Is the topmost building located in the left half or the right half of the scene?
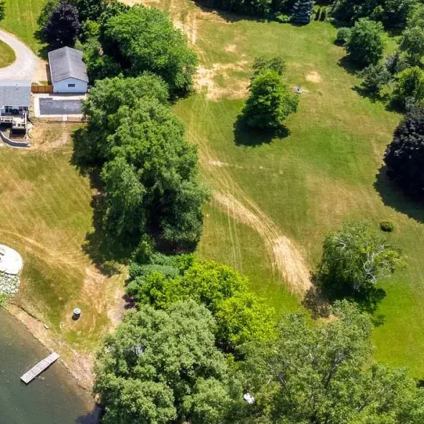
left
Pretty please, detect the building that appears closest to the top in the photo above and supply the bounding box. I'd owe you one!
[49,46,88,91]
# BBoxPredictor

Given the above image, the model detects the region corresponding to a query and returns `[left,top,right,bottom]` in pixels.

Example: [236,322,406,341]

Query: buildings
[0,79,31,141]
[49,46,88,91]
